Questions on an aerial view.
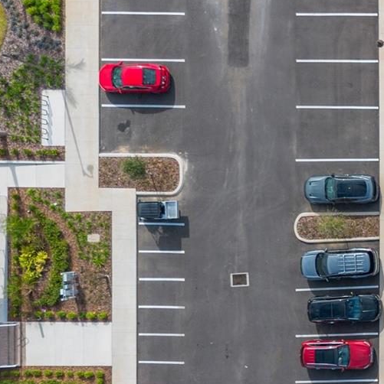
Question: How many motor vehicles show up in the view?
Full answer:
There are 6 motor vehicles in the image.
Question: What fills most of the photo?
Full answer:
The bulk of the photo consists of paved ground.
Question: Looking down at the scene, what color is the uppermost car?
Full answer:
In this view, the uppermost car is red.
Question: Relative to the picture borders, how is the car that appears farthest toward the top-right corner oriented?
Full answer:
From this overhead view, the car that appears farthest toward the top-right corner appears to run from side to side.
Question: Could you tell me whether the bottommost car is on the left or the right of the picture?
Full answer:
The bottommost car is on the right side of the image.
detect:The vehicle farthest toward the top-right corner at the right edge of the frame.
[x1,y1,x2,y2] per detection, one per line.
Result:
[306,172,379,207]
